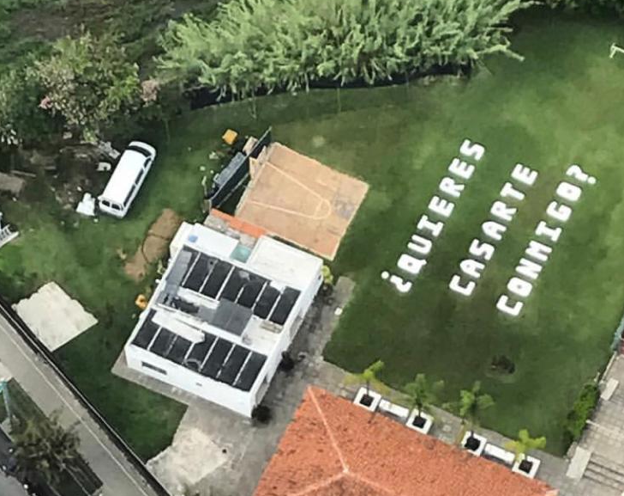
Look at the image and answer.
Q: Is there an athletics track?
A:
No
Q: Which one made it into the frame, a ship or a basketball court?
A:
basketball court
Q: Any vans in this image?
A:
Yes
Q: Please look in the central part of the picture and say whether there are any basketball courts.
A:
Yes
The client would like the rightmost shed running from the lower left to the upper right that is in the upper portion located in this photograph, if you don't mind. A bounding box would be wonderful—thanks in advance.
[211,138,255,191]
